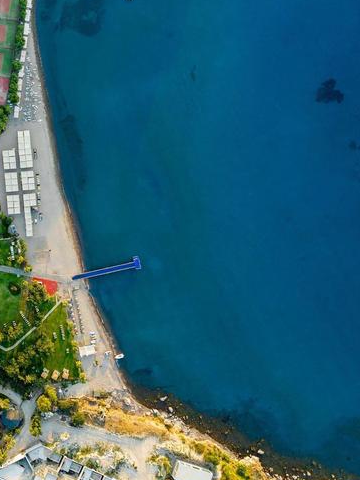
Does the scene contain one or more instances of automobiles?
No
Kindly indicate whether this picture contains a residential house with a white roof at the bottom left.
Yes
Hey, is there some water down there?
Yes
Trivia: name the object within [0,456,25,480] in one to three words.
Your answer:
house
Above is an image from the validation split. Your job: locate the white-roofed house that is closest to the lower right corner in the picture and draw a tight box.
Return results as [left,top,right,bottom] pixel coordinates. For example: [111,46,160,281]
[171,458,212,480]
